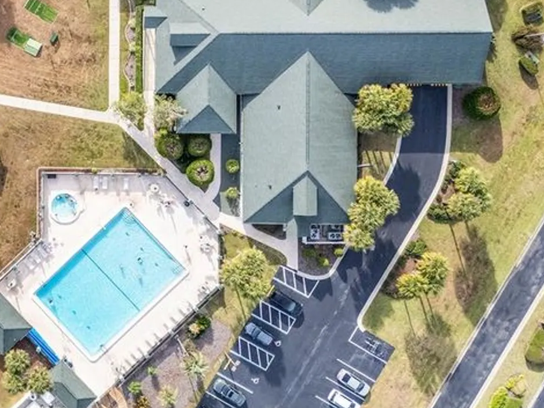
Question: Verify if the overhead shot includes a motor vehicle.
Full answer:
Yes, looking at the shot, I can spot a motor vehicle.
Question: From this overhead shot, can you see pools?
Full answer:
Yes, a pool is visible in the scene.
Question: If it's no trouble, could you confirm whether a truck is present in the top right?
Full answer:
No, I can find no truck in the top right.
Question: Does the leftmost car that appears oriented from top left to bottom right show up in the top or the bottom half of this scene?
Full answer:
It is in the bottom half that the leftmost car that appears oriented from top left to bottom right appears.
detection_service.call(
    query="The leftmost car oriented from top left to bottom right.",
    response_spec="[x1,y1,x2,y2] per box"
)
[210,377,249,408]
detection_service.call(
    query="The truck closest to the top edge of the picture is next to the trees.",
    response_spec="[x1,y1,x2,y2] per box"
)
[262,287,306,320]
